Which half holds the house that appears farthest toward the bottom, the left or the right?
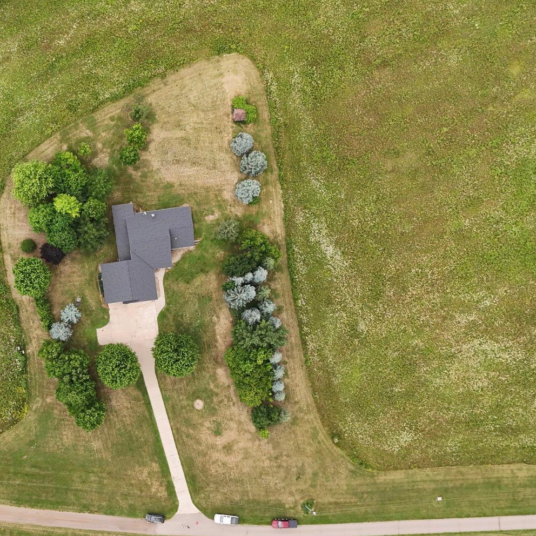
left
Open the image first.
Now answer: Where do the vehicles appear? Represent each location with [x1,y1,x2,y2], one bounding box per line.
[145,513,164,523]
[214,514,239,524]
[271,519,297,527]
